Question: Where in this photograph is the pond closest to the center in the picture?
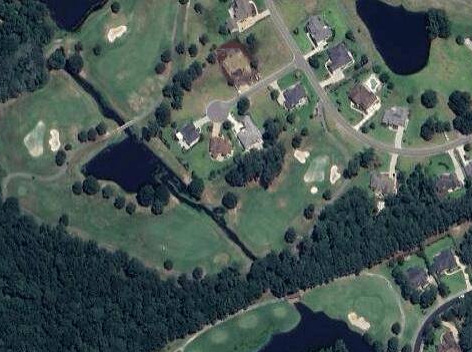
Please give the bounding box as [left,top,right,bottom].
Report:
[81,137,205,206]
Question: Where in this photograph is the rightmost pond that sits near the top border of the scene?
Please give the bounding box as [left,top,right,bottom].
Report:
[356,0,431,75]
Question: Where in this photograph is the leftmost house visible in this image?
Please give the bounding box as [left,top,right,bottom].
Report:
[178,122,201,147]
